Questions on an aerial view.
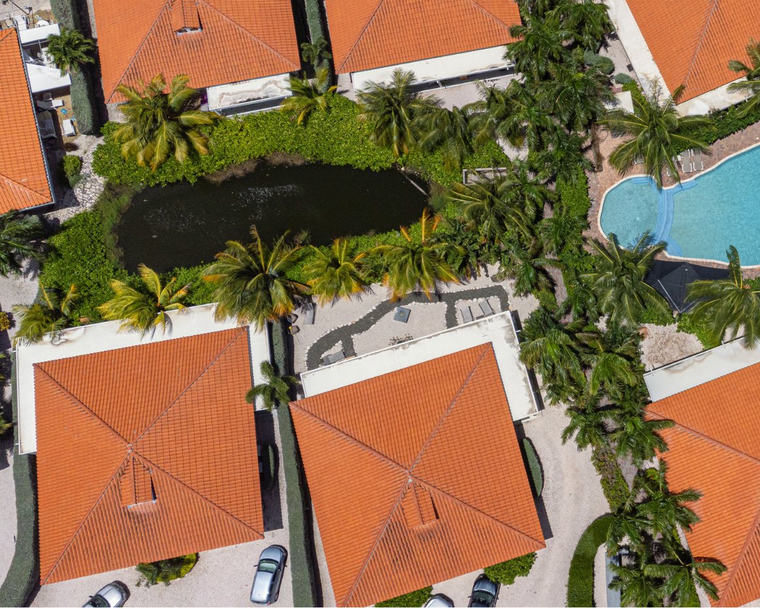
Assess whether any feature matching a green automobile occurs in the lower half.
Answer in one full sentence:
No, no green automobile can be made out in the lower half.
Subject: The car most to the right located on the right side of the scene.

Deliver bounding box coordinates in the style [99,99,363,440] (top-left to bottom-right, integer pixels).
[465,572,496,608]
